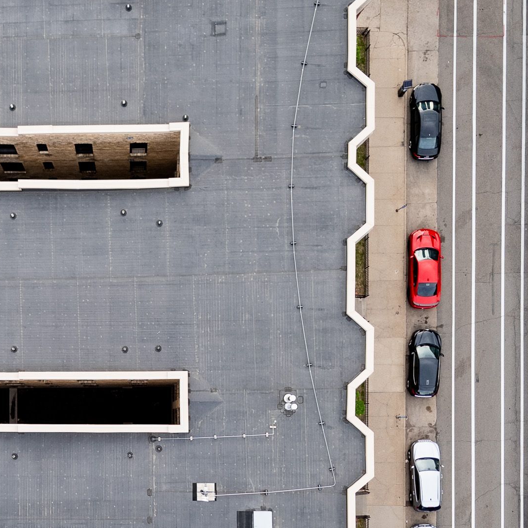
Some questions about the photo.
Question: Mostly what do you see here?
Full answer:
The scene is dominated by buildings.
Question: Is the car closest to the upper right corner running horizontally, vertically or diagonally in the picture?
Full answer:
Seen from above, the car closest to the upper right corner lies vertically.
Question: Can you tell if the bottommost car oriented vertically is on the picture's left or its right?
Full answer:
You can find the bottommost car oriented vertically on the right side of the picture.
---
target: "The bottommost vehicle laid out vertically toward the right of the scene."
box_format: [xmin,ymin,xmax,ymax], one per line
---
[408,437,446,513]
